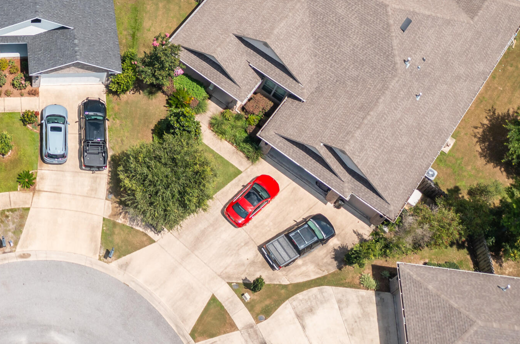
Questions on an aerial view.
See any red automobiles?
Yes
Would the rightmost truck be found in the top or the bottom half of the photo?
bottom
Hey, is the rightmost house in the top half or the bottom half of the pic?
bottom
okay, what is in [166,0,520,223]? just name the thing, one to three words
house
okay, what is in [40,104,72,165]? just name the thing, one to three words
car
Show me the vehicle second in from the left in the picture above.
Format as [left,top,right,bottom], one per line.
[80,93,111,173]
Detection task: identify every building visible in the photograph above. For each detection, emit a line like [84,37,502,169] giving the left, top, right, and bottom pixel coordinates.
[166,0,520,223]
[391,260,520,344]
[0,0,122,86]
